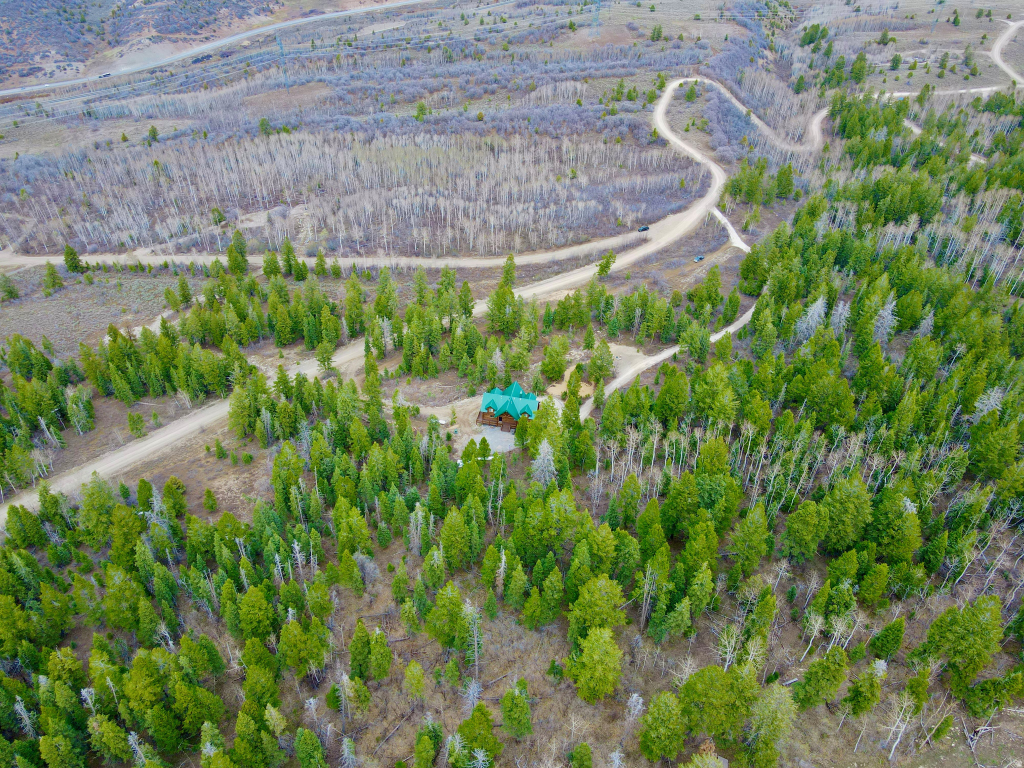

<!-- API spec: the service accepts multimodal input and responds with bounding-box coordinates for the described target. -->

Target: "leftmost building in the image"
[473,383,540,438]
